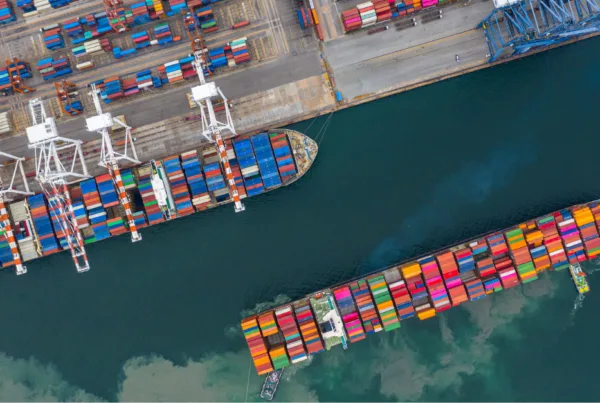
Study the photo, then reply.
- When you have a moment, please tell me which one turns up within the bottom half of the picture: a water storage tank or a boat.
boat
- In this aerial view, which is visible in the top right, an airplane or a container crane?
container crane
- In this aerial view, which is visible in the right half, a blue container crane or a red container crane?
blue container crane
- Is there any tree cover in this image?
No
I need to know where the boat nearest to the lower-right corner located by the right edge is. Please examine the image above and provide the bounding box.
[569,266,591,295]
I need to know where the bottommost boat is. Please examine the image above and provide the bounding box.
[261,367,279,401]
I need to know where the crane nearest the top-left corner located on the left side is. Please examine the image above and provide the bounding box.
[2,53,40,93]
